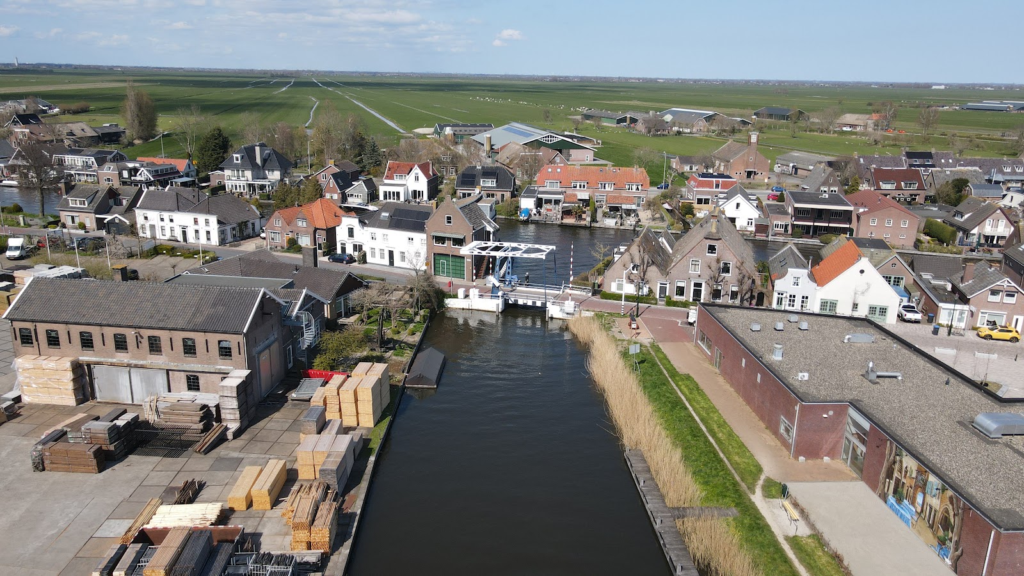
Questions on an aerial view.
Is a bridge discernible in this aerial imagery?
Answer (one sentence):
Yes, the frame does contain a bridge.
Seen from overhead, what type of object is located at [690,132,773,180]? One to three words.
building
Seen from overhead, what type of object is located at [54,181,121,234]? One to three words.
house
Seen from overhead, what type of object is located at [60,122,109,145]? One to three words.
barn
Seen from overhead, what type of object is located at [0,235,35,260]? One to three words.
truck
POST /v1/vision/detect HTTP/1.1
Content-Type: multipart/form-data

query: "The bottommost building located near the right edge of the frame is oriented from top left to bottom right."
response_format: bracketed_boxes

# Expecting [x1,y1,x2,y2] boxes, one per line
[694,303,1024,576]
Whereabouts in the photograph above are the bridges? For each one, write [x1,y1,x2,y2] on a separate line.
[459,239,561,311]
